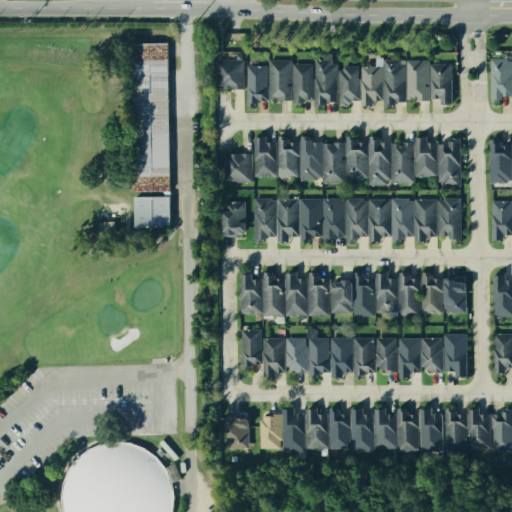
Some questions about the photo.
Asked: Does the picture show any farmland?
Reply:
No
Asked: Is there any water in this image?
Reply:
No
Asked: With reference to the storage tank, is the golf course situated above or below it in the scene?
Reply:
above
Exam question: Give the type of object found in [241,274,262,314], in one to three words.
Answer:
house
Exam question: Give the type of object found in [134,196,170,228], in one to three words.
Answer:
shed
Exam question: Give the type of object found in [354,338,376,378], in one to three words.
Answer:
house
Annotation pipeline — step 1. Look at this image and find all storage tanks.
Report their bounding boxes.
[60,442,175,512]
